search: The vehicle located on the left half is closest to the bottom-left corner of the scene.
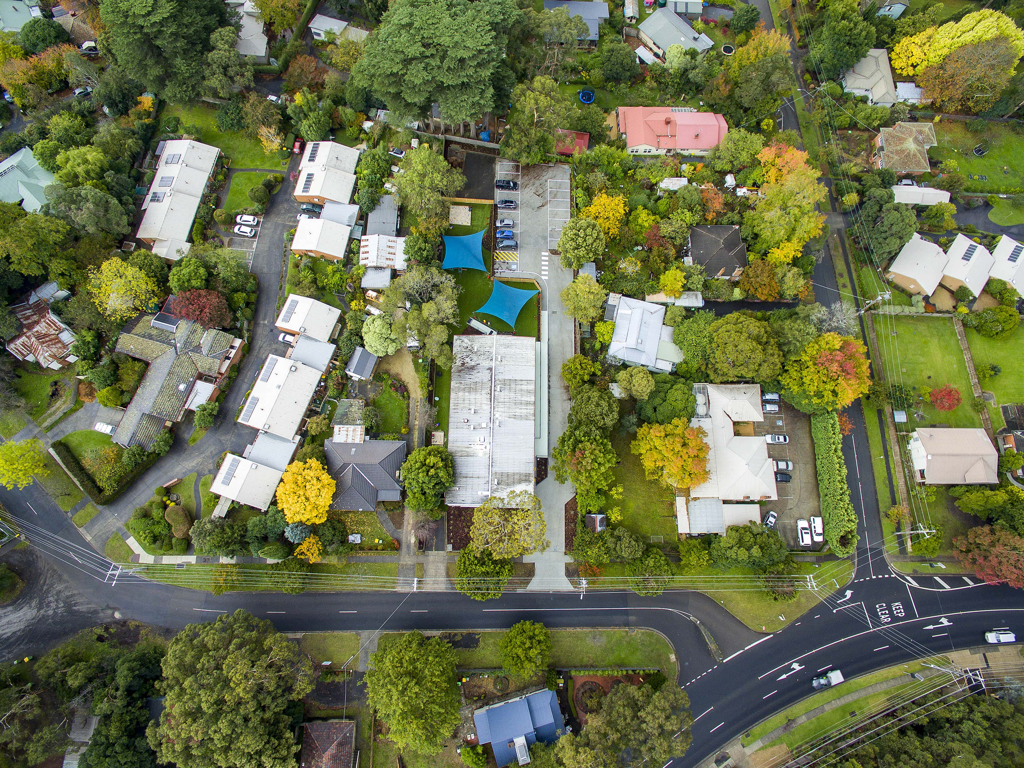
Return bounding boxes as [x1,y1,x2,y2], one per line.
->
[94,423,118,435]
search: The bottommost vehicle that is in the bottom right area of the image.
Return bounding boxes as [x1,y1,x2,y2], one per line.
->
[815,671,843,688]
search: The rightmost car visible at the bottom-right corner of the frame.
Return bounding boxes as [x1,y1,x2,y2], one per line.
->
[987,631,1014,643]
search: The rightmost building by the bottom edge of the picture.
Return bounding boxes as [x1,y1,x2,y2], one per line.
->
[474,690,566,767]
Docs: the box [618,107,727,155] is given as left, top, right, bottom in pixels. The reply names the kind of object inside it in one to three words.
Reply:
house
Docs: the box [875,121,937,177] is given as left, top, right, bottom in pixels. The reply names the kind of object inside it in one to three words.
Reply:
house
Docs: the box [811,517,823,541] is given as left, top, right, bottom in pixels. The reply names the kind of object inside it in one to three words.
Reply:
vehicle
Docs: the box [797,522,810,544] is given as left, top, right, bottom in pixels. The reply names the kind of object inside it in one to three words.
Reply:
vehicle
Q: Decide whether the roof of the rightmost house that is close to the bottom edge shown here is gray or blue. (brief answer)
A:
blue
